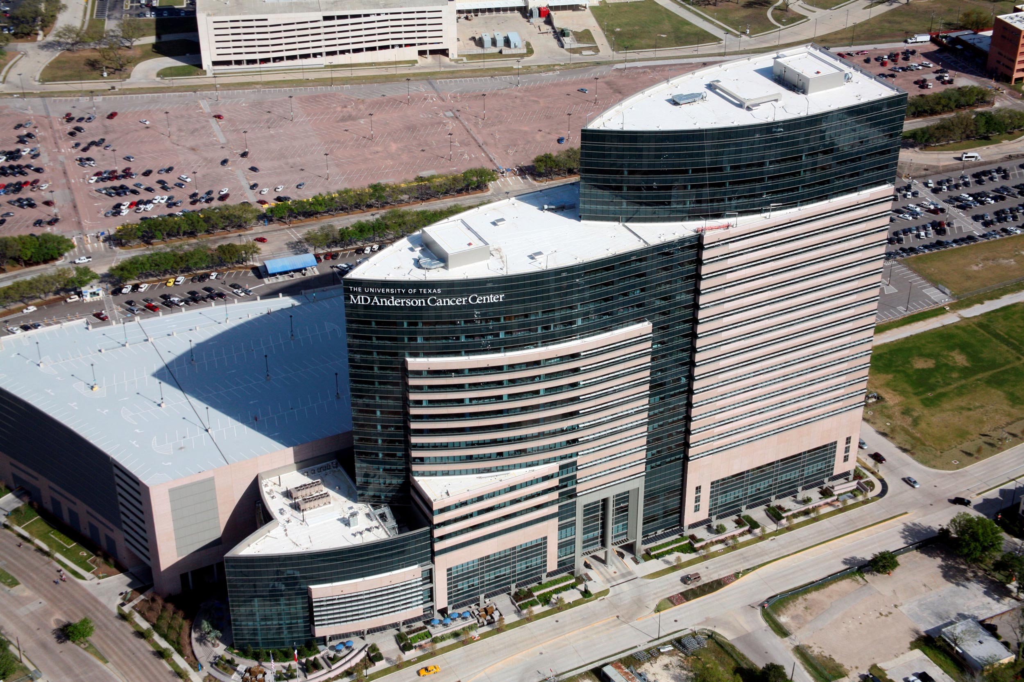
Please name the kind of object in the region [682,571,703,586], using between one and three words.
vehicle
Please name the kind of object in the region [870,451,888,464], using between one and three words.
vehicle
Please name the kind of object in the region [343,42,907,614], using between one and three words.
building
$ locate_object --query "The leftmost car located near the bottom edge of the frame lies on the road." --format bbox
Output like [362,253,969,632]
[420,666,440,678]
